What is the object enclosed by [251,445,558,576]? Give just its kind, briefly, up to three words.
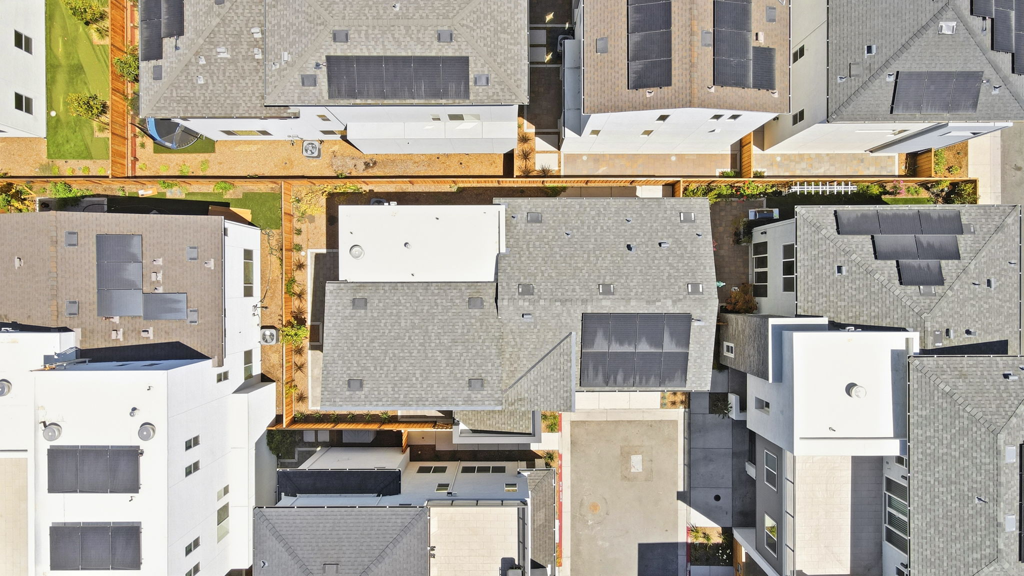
house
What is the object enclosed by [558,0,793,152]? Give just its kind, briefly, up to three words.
house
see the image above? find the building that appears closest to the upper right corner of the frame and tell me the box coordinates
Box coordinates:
[760,0,1024,155]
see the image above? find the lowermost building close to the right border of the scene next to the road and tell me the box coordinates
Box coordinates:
[721,313,1024,576]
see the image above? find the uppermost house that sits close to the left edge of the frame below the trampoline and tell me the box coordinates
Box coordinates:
[0,210,267,367]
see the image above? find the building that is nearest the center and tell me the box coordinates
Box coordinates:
[320,196,718,443]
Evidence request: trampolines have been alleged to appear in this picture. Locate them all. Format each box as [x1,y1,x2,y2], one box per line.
[133,121,209,156]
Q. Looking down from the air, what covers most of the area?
buildings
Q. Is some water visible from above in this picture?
No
